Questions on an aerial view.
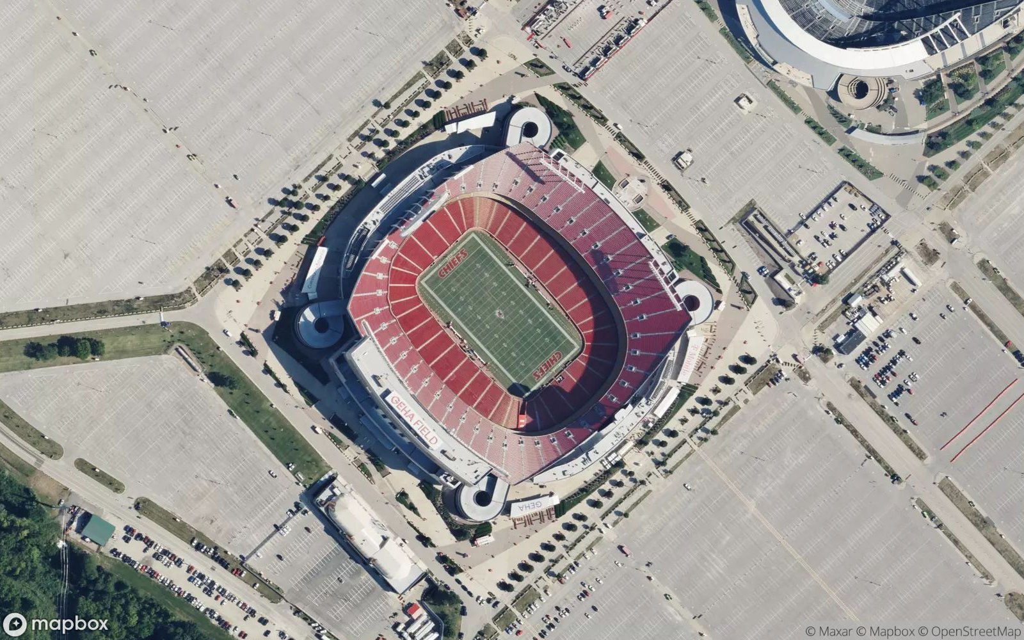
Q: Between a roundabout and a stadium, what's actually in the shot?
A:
stadium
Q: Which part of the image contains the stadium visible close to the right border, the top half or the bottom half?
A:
top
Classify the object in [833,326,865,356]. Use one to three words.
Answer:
building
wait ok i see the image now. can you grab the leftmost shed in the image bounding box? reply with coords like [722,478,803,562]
[78,513,114,549]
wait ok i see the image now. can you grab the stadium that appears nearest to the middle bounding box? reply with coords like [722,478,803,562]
[317,140,692,490]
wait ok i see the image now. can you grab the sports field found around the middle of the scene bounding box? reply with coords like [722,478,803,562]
[415,227,584,397]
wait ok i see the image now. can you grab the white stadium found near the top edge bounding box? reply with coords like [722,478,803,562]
[728,0,1024,91]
